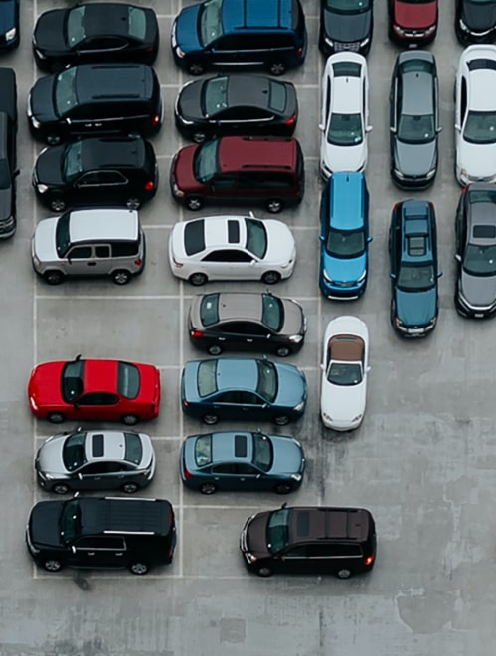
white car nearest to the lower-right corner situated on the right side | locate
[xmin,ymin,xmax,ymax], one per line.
[318,315,373,432]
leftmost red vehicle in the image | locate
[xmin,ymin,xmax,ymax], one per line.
[27,351,162,425]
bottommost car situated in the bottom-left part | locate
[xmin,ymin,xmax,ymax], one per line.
[26,493,176,575]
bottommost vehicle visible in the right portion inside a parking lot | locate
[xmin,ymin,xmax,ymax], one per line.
[239,505,375,579]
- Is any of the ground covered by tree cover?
No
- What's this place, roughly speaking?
parking lot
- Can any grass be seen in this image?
No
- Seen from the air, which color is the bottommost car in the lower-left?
black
